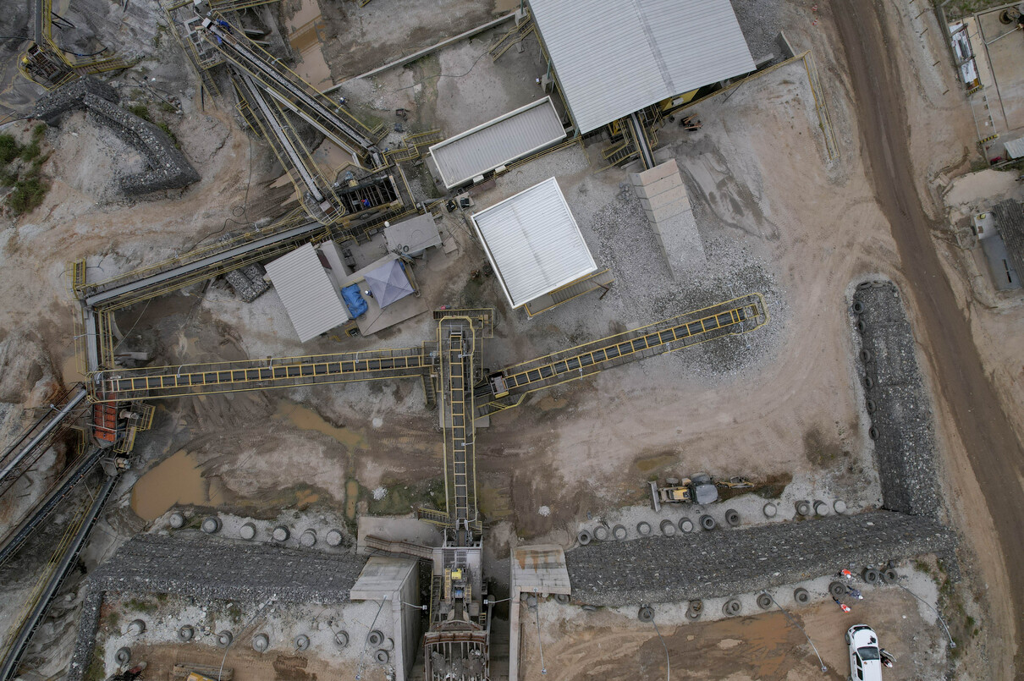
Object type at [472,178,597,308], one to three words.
building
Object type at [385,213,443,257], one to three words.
shed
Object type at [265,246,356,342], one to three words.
shed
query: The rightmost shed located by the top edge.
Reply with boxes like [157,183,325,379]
[504,0,756,175]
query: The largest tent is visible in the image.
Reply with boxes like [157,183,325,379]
[363,260,419,310]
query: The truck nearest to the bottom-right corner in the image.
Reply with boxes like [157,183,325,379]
[844,624,894,681]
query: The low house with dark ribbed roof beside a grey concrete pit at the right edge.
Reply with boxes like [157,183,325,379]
[970,198,1024,293]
